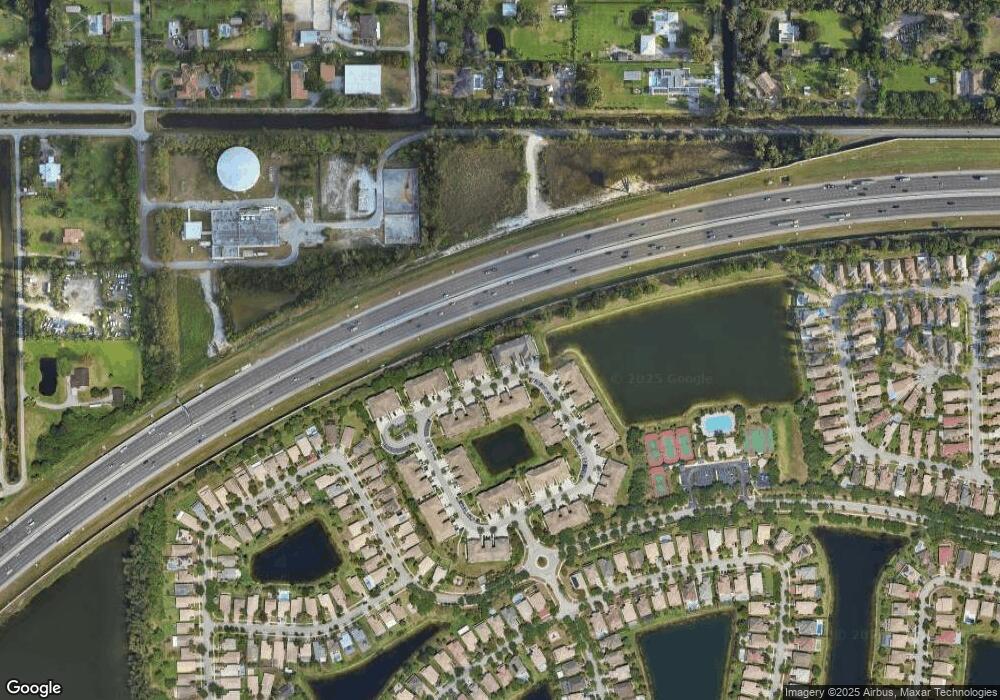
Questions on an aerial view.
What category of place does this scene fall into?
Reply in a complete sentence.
This image shows a residential area.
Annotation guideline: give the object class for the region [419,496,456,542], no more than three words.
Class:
house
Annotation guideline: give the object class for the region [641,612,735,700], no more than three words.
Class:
pond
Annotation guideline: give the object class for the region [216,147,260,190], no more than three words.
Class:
storage tank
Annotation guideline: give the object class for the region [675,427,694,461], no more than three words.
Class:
tennis court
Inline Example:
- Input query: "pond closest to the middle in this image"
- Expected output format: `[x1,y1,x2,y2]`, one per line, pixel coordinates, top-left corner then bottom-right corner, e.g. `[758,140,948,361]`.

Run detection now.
[476,424,533,474]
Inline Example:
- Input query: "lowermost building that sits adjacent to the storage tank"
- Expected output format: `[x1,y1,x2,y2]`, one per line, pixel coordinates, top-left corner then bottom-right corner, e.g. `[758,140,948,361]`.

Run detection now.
[211,210,278,258]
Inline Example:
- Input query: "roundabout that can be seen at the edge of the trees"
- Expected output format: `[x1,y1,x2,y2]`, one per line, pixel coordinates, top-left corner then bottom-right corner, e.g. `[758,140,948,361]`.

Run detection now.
[527,548,556,576]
